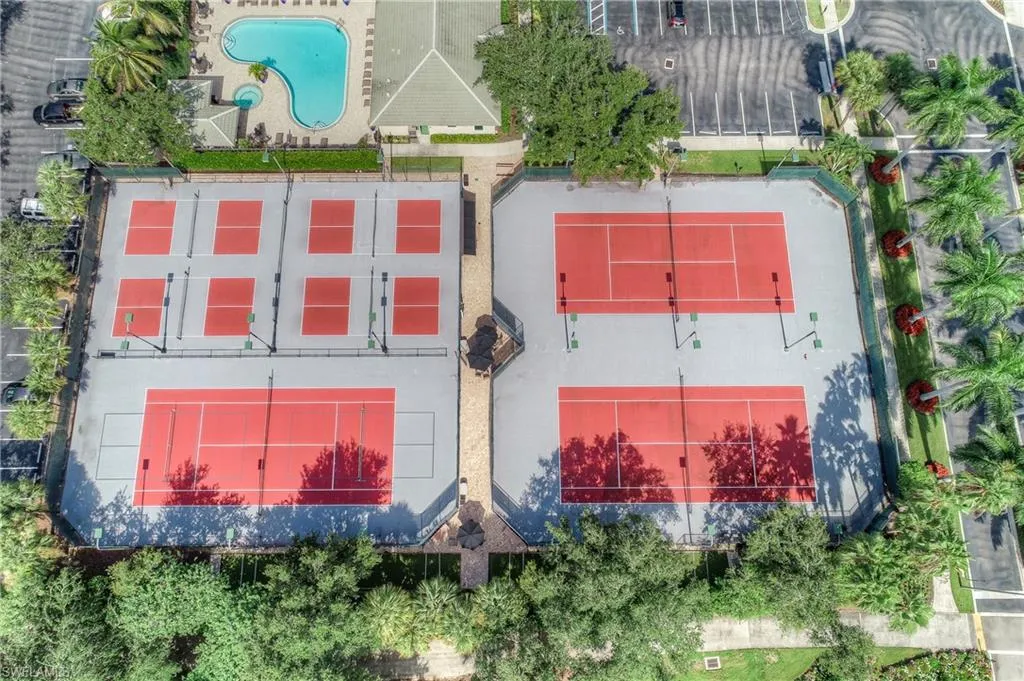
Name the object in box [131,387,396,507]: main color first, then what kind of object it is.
red tennis court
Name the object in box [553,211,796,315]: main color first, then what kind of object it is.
red tennis court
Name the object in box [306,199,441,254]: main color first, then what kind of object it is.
red sports court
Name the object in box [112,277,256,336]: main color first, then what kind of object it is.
red sports court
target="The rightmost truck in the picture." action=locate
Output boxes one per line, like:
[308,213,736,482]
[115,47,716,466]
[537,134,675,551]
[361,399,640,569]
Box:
[669,0,691,26]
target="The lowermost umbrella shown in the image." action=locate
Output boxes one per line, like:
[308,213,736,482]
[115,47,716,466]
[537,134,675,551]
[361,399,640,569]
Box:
[455,520,486,552]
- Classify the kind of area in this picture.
sports ground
